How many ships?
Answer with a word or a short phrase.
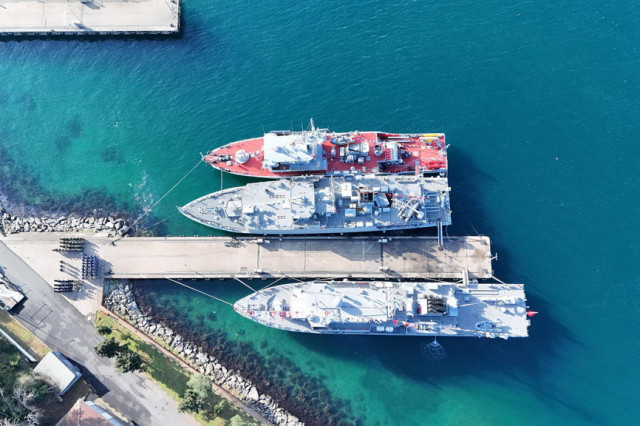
3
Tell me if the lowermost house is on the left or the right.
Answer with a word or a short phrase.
left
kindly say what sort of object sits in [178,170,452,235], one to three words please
ship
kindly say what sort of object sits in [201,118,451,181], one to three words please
ship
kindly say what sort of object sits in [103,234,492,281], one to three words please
pier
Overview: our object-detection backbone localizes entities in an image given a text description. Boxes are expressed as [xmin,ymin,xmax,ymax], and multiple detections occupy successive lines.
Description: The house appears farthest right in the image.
[61,397,128,426]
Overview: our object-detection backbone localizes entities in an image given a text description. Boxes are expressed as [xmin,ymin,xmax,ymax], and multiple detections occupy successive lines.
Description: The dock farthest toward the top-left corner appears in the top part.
[0,0,186,39]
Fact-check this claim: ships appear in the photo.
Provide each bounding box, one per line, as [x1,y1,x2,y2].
[201,118,451,181]
[178,170,452,235]
[231,277,536,337]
